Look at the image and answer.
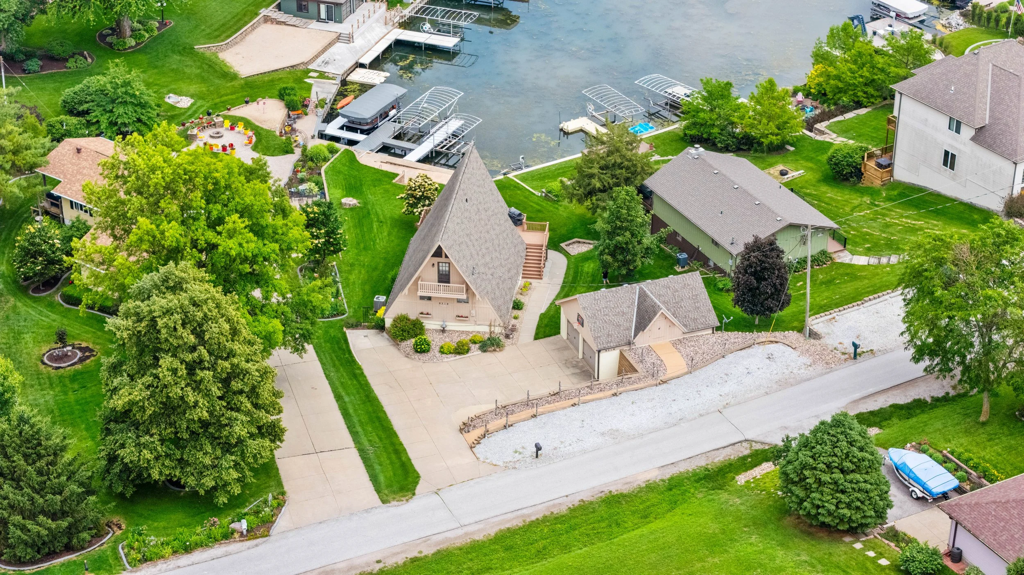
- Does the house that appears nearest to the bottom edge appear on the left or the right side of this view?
right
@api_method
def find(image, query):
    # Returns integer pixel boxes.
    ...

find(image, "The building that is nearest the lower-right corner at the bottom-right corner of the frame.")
[934,471,1024,575]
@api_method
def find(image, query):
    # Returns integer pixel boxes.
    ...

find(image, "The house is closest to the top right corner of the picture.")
[887,28,1024,213]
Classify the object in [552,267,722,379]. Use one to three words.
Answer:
building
